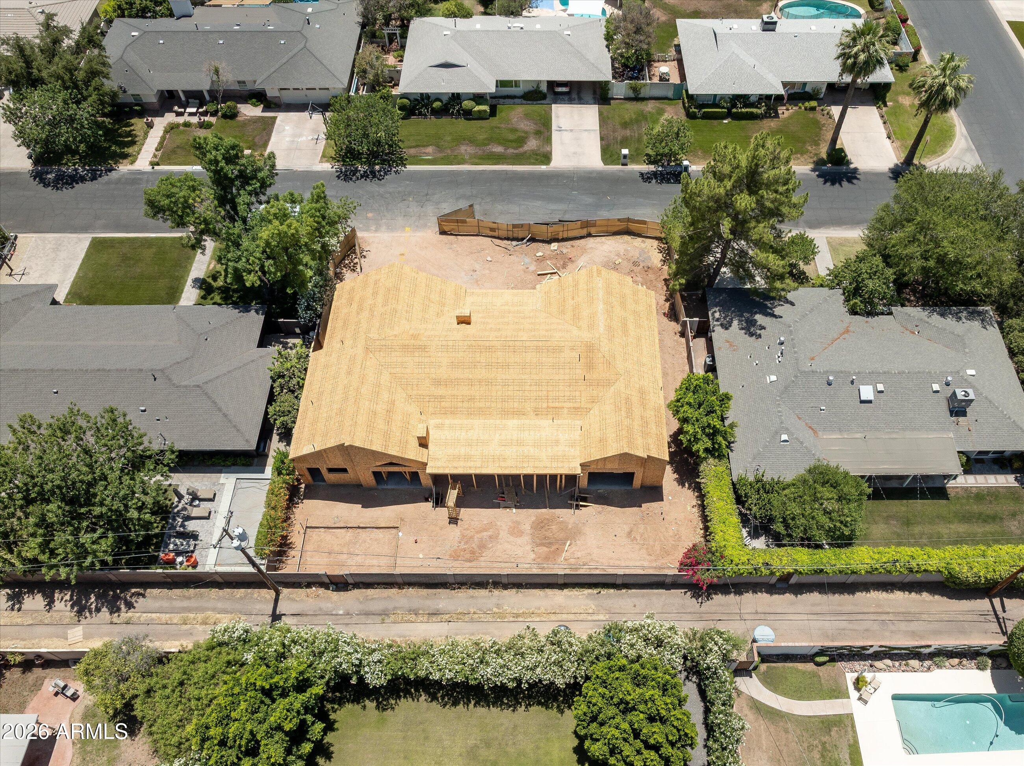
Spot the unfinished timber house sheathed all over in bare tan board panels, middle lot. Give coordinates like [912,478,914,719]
[289,263,672,494]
